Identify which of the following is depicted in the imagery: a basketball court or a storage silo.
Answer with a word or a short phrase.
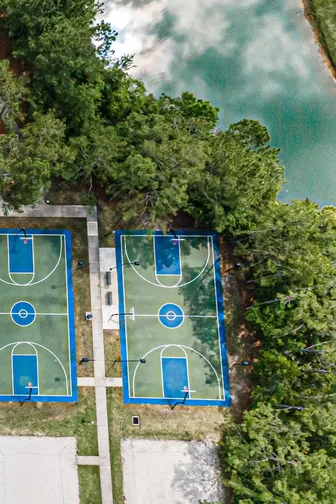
basketball court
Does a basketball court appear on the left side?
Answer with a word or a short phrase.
Yes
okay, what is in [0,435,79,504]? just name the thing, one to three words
sports court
